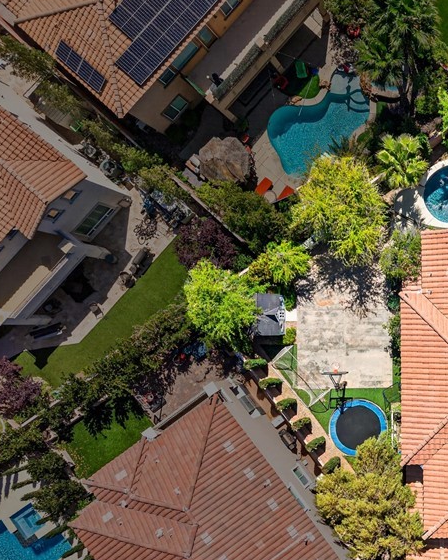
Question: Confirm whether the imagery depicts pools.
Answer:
Yes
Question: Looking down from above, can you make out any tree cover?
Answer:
Yes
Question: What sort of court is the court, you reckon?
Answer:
basketball court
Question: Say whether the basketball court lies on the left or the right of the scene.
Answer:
right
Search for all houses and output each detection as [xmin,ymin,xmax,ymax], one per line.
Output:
[398,230,448,560]
[2,0,340,137]
[0,76,131,335]
[66,377,356,560]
